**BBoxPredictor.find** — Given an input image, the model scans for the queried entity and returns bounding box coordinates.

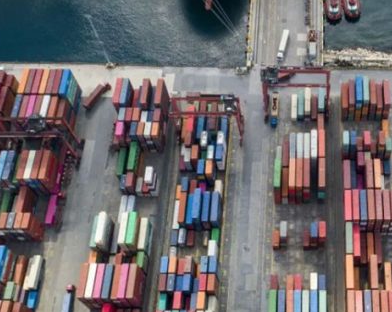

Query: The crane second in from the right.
[170,93,250,150]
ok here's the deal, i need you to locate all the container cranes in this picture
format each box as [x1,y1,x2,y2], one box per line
[263,66,334,122]
[0,114,83,170]
[170,93,250,150]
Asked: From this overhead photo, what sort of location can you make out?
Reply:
port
